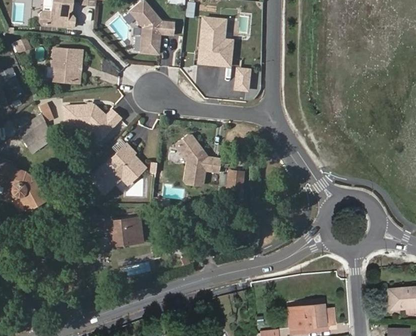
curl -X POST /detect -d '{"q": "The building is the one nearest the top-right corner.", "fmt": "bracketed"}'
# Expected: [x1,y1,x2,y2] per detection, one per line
[233,67,250,92]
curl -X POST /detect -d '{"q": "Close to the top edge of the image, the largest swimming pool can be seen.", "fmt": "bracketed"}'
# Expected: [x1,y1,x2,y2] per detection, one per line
[107,14,130,44]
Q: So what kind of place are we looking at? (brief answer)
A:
residential area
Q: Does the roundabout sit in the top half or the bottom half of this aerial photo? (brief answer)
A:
bottom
